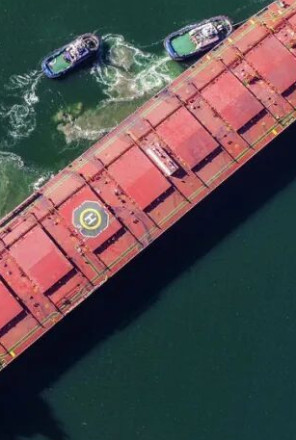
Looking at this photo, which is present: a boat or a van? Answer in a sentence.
It is a boat that can be seen here.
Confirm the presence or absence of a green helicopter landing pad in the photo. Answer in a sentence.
No, no green helicopter landing pad is visible in the view.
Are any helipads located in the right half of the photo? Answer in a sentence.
No, looking in the right half of the photo, there is no helipad.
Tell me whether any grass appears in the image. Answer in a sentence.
No, no grass is visible.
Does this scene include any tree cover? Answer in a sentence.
No, the scene doesn't show any tree cover.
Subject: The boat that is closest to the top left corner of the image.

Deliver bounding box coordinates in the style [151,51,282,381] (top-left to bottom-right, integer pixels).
[39,34,103,81]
